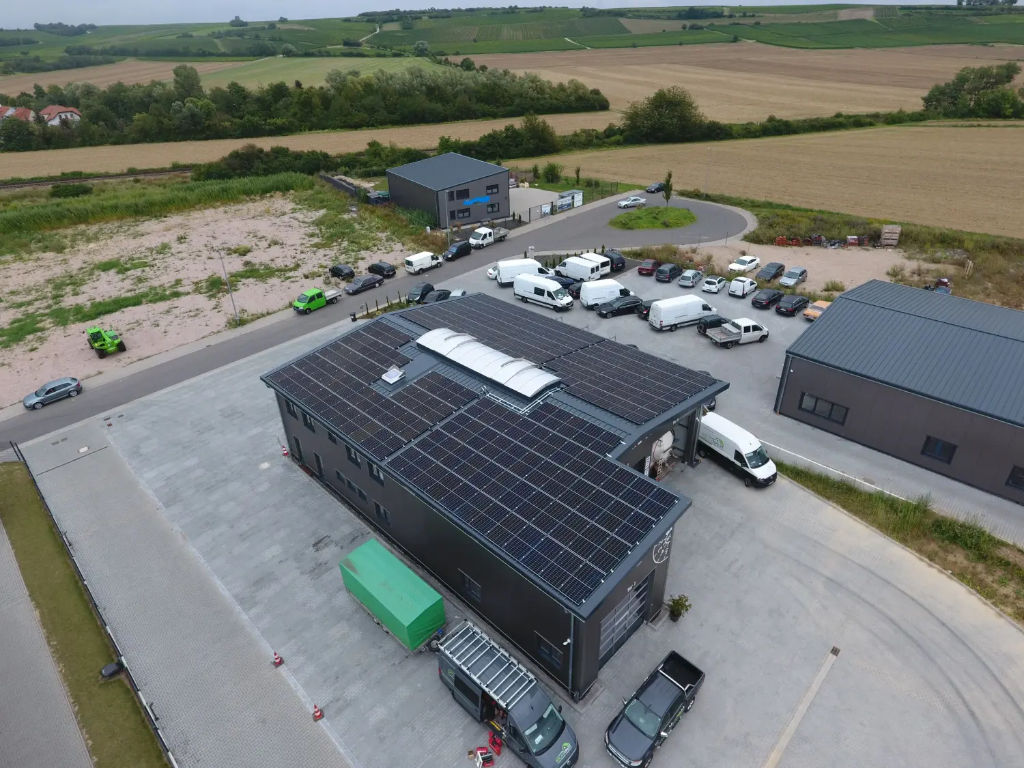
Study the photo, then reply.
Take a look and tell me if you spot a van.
Yes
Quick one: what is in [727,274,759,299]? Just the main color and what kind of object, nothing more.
white vehicle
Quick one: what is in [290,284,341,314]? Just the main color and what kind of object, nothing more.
green truck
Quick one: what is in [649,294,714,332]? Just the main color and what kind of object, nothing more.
white van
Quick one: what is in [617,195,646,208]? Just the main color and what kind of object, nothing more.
gray vehicle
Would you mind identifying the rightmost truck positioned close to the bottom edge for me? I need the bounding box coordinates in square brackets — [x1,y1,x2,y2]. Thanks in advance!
[601,651,709,768]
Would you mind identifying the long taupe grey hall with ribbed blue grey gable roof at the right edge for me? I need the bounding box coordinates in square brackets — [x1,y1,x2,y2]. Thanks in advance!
[775,279,1024,505]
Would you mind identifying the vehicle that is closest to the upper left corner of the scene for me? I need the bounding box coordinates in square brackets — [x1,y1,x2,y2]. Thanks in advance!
[75,321,126,359]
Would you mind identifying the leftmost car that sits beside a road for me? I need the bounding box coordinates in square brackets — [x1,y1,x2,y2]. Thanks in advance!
[15,375,84,410]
